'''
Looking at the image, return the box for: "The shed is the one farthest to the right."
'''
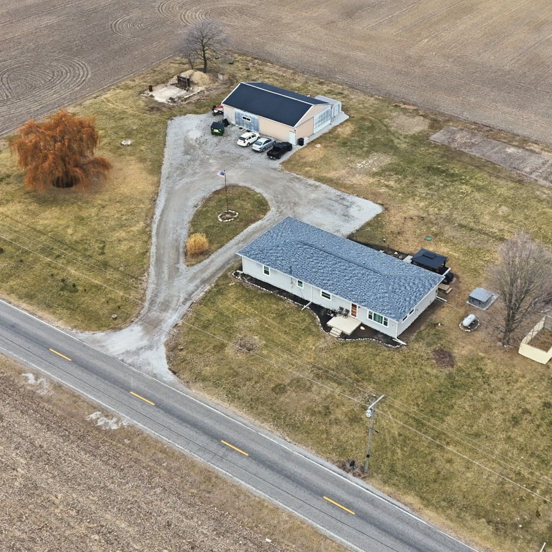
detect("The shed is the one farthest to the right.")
[466,288,497,311]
